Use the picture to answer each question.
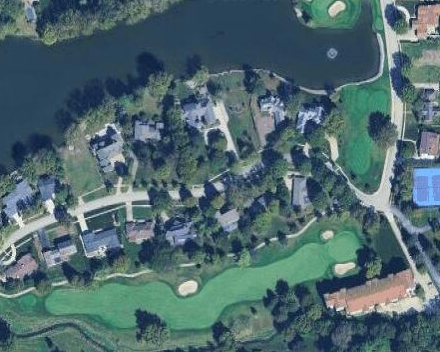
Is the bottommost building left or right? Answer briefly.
right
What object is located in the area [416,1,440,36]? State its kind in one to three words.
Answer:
house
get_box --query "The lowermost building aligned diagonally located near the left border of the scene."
[5,251,41,280]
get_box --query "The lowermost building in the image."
[325,267,419,313]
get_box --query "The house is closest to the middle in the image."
[216,210,241,233]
